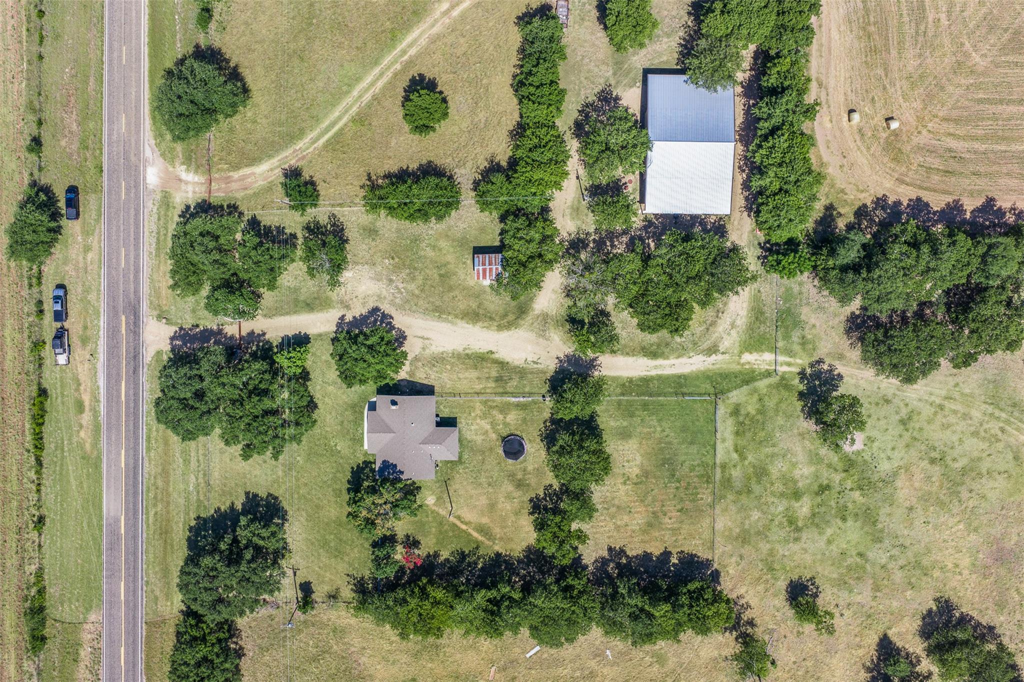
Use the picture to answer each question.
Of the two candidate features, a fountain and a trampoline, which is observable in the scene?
trampoline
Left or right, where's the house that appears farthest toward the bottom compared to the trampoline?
to the left of it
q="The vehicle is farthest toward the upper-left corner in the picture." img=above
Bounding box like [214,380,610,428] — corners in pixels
[63,188,80,223]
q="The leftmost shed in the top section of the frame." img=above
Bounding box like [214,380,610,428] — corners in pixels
[475,254,509,281]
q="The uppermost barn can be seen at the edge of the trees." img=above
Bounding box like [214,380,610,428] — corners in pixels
[641,74,735,218]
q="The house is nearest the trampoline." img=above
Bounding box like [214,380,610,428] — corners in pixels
[365,395,458,482]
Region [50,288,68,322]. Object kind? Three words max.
vehicle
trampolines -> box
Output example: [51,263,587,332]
[502,435,526,459]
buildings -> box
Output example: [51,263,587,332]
[365,395,458,482]
[475,254,509,281]
[641,74,735,218]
